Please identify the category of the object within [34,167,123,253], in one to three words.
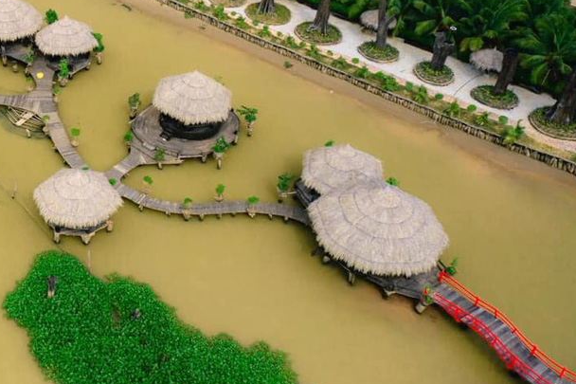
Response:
building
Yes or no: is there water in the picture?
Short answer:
Yes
